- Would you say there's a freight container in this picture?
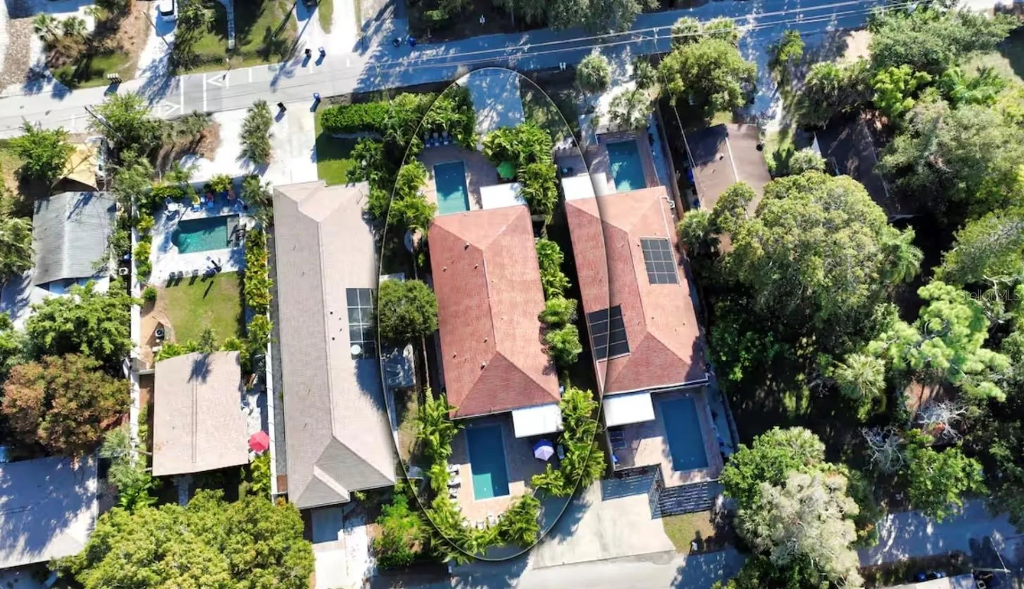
No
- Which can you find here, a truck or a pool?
pool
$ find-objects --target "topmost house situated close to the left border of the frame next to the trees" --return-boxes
[34,192,124,288]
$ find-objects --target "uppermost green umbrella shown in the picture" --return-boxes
[496,161,514,180]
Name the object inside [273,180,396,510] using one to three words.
house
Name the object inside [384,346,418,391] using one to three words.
shed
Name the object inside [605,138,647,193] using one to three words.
swimming pool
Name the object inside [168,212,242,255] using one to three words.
swimming pool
